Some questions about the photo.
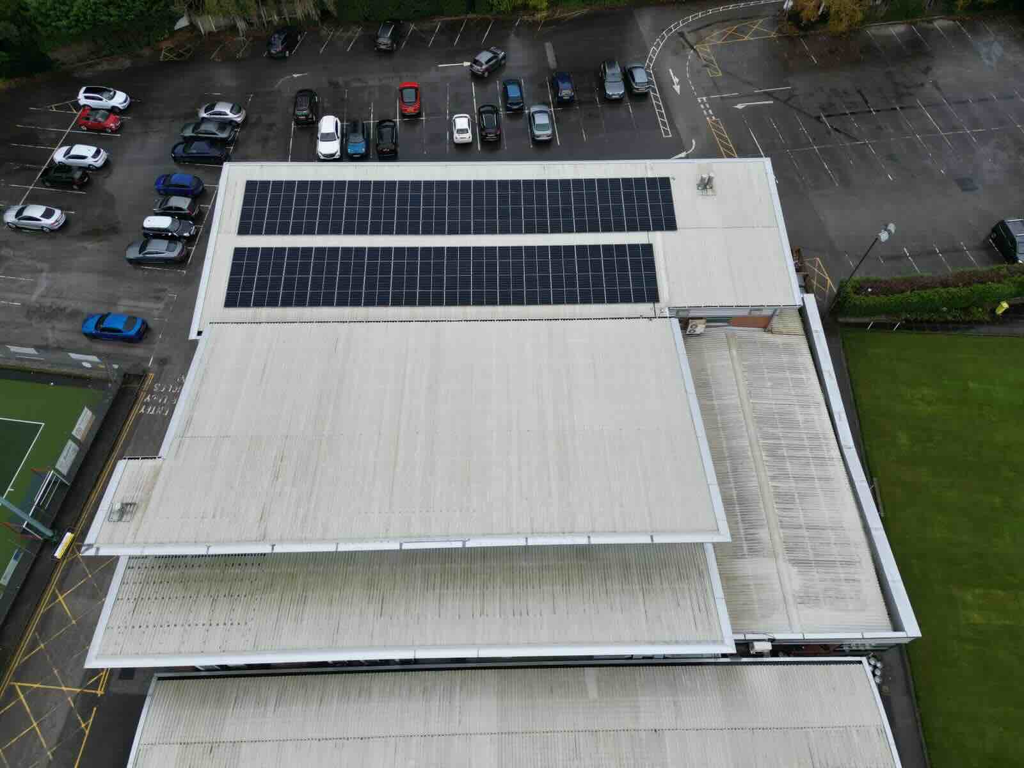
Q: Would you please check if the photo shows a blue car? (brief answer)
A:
Yes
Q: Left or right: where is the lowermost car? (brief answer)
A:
left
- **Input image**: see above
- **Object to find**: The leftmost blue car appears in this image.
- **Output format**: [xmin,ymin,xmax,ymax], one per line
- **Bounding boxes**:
[80,312,151,344]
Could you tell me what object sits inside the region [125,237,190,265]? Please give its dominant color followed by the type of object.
gray car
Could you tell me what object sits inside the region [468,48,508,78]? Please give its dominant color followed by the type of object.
gray car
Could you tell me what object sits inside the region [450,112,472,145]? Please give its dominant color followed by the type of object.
white car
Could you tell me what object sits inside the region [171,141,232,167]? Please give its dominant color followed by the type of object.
black car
